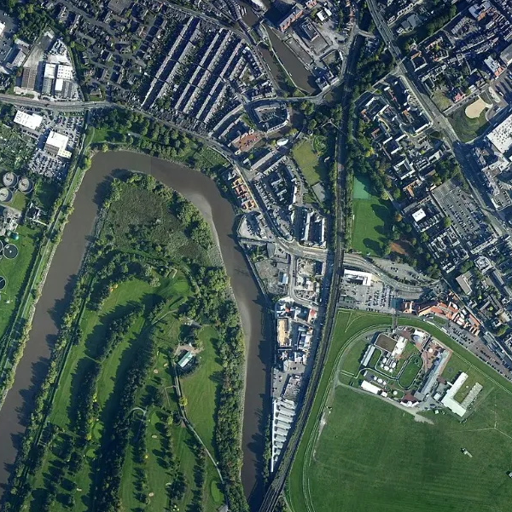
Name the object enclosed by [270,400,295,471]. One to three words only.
building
